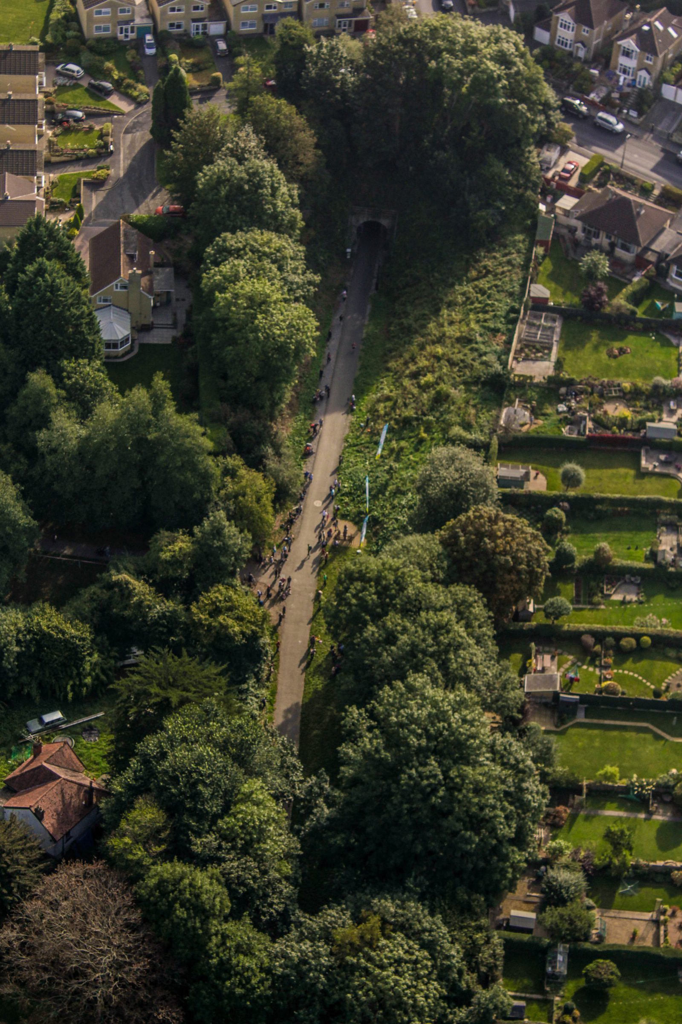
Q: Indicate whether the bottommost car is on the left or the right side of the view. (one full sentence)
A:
The bottommost car sits on the left side.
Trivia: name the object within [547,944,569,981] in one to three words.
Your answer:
greenhouse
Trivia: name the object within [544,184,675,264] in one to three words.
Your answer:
house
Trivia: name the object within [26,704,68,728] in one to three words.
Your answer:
car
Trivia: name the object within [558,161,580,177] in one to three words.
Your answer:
car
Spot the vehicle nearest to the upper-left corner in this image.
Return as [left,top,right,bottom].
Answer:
[55,62,84,77]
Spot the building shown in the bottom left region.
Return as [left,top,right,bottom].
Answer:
[3,727,107,872]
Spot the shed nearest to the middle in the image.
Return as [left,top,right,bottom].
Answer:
[497,465,531,491]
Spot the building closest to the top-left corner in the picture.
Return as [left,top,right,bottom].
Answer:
[0,45,46,97]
